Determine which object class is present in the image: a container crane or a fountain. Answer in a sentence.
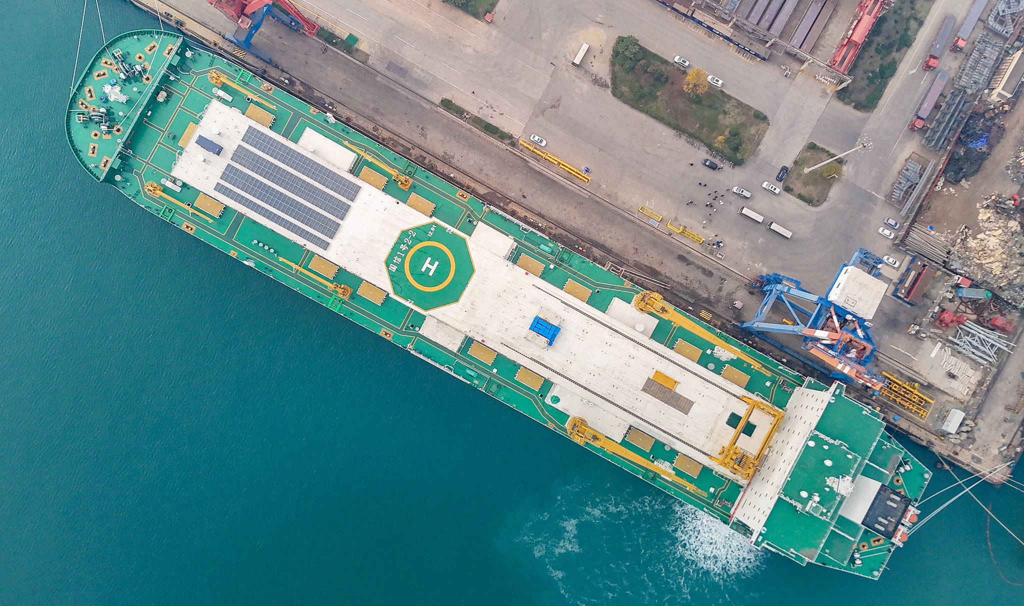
It is a container crane that can be seen here.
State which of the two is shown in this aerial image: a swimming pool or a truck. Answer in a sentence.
There is a truck in the scene.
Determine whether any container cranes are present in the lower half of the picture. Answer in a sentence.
Yes, I can see a container crane in the lower half of the picture.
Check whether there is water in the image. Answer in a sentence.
Yes, there's water in this view.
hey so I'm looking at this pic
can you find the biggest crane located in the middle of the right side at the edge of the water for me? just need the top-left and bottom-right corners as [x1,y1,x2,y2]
[732,245,890,390]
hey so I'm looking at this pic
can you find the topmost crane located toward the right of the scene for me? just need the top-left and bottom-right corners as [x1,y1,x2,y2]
[829,0,900,75]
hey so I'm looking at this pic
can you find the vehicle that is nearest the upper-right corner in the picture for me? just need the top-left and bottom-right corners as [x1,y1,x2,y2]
[953,0,988,50]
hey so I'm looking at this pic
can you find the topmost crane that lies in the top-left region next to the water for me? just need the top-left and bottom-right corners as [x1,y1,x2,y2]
[204,0,321,64]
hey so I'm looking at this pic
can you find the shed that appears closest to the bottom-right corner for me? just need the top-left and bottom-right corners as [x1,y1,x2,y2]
[937,407,965,434]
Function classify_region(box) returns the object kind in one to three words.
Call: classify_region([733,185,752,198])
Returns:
vehicle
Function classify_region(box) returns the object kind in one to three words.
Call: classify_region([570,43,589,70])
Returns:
vehicle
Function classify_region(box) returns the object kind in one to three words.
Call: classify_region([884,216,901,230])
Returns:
car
